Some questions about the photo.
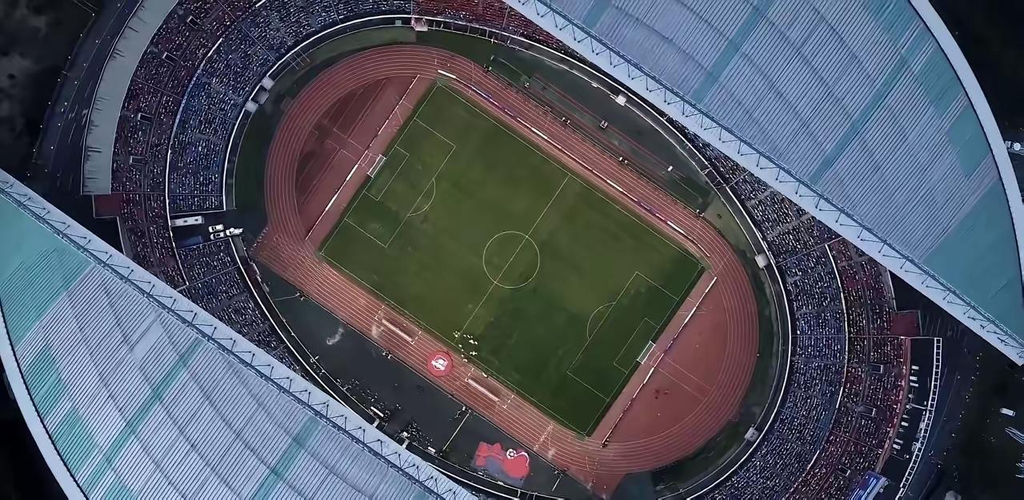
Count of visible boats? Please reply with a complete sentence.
No boats are visible.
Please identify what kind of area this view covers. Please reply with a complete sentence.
This looks like a sports ground.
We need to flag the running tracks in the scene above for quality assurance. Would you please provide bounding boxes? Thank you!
[249,43,762,500]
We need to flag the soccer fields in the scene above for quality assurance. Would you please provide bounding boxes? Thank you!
[312,75,713,445]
